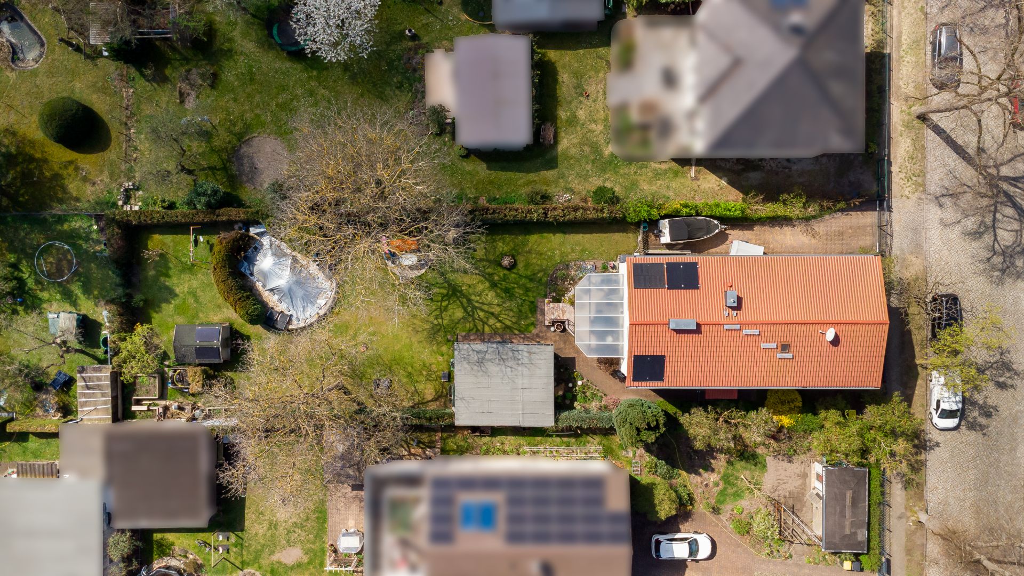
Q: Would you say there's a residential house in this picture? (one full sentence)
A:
Yes, I can see a residential house in this picture.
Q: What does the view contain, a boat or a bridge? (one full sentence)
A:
It is a boat that can be seen here.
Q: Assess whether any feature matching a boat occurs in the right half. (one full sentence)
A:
Yes, a boat is visible in the right half.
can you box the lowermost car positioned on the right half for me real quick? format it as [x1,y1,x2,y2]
[652,530,711,563]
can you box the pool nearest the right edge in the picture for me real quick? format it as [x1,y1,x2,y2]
[238,228,338,334]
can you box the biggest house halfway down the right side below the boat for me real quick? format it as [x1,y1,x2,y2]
[618,253,891,400]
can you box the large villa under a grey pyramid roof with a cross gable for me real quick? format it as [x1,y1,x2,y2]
[683,0,866,162]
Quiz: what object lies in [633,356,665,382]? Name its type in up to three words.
solar panel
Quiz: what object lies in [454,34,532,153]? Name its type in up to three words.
house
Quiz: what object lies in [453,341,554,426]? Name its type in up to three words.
building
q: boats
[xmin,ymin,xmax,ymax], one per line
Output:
[653,218,722,243]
